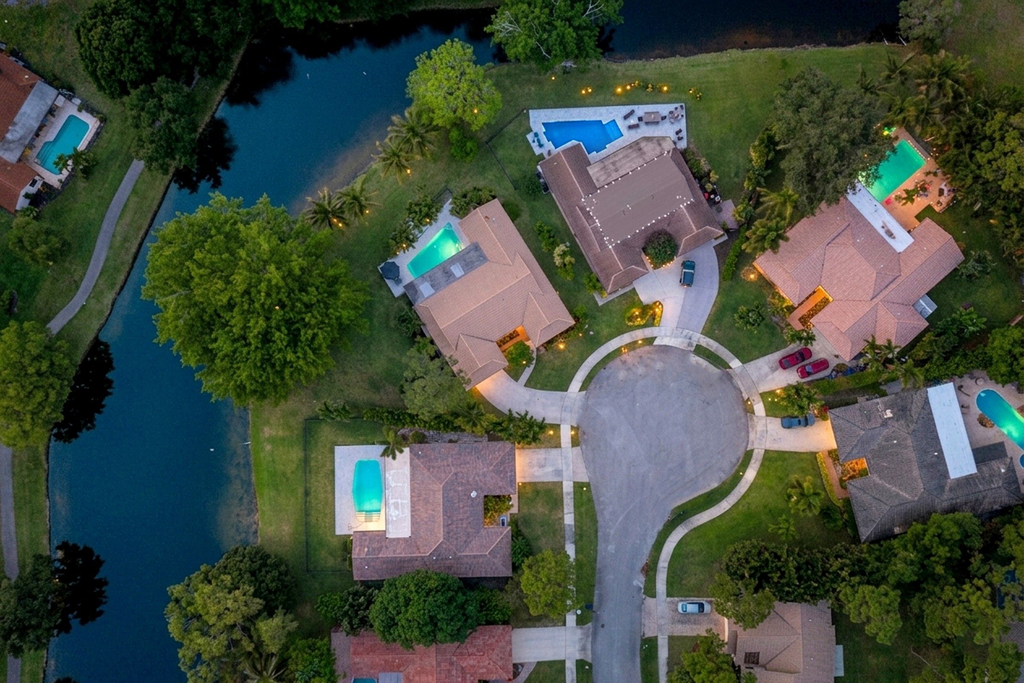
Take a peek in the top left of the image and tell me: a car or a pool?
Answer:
pool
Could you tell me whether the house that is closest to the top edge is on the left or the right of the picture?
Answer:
left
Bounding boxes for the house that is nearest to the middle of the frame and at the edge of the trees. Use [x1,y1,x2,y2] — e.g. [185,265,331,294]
[403,198,575,391]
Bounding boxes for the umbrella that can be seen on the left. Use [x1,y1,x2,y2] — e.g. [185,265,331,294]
[380,261,401,281]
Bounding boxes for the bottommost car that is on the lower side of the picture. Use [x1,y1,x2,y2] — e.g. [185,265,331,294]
[676,598,711,616]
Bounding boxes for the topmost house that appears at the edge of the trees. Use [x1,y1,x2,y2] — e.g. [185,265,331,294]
[0,55,70,214]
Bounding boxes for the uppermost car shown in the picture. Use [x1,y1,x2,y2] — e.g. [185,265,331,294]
[680,260,695,289]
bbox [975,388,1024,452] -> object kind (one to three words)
swimming pool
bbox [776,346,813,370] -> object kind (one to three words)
car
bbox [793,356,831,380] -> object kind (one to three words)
car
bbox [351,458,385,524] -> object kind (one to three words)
swimming pool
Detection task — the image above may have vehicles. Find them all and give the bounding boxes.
[676,598,711,616]
[793,356,831,380]
[776,346,813,370]
[778,414,816,430]
[680,260,695,289]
